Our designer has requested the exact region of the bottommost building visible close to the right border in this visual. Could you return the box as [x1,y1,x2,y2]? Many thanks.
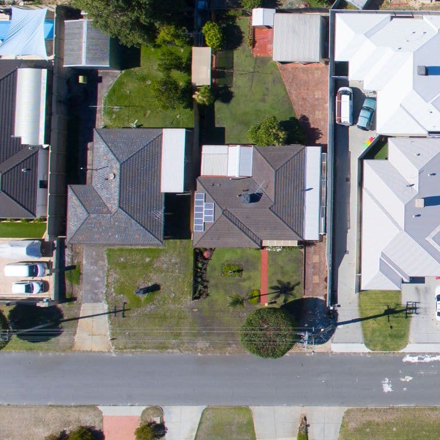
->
[360,137,440,291]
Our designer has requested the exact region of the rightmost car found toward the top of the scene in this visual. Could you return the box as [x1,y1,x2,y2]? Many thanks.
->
[357,96,376,131]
